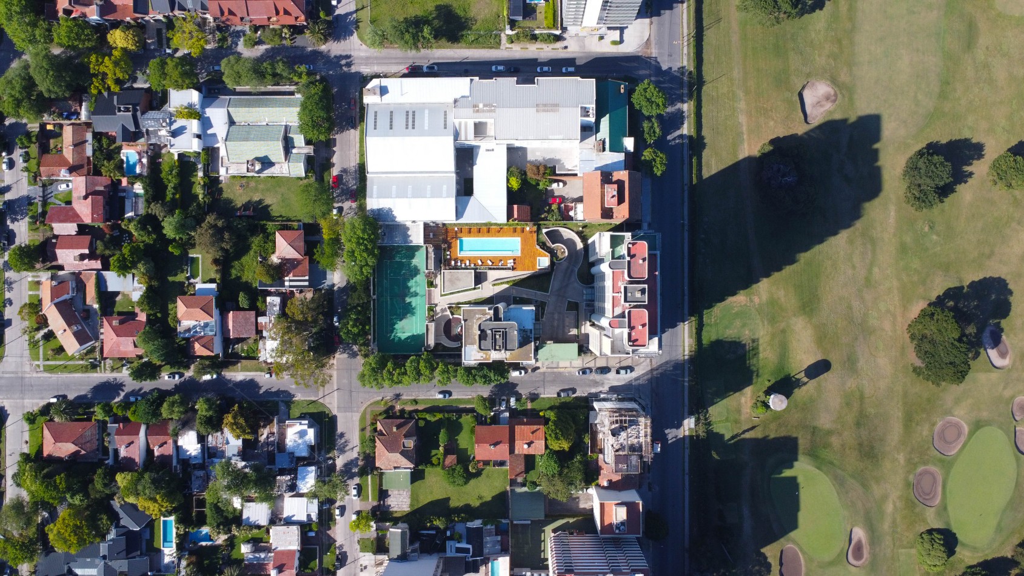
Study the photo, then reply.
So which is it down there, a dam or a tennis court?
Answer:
tennis court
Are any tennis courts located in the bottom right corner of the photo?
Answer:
No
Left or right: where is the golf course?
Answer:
right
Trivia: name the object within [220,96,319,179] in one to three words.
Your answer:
building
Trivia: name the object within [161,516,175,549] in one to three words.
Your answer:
swimming pool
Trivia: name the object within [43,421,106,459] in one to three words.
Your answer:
house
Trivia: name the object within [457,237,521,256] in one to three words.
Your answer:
swimming pool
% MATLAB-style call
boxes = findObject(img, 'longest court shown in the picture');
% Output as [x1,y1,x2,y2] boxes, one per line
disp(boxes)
[377,246,425,354]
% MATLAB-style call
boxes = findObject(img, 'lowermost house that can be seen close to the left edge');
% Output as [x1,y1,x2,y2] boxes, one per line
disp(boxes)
[33,494,155,576]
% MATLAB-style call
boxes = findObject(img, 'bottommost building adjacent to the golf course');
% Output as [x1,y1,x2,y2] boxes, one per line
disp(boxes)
[544,525,652,576]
